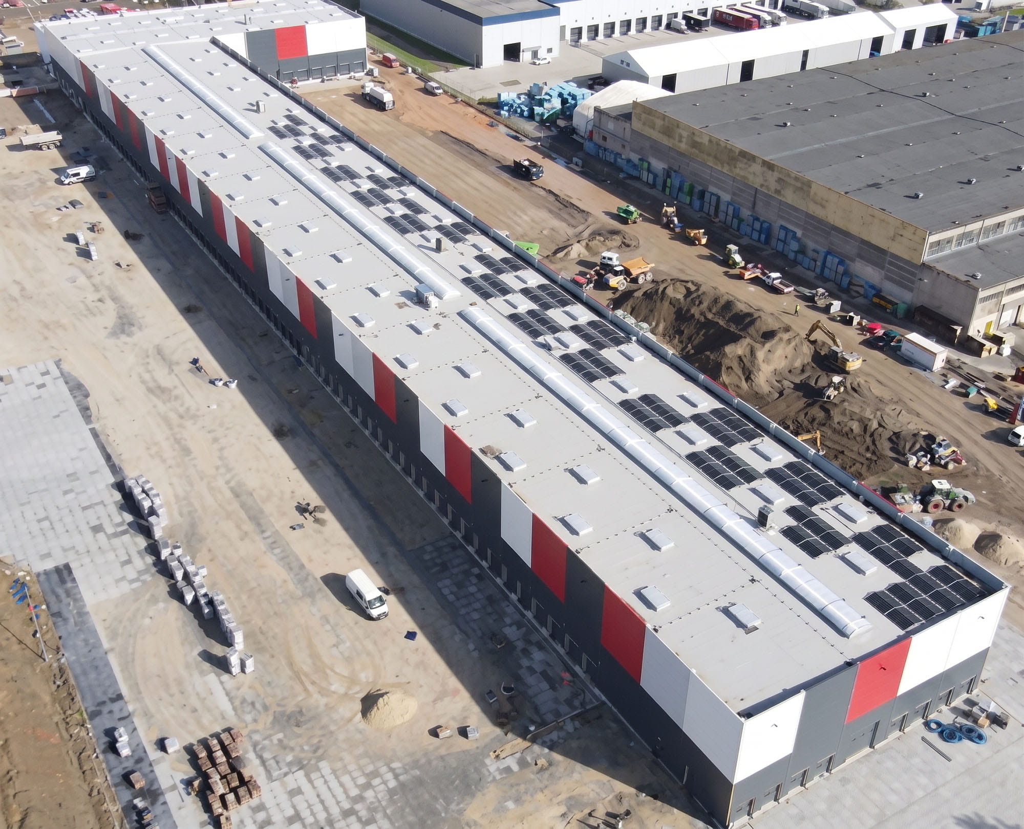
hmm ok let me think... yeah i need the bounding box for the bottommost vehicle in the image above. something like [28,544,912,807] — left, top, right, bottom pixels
[345,564,390,619]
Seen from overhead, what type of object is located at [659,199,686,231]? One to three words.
work vehicle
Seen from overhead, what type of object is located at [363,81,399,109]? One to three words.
truck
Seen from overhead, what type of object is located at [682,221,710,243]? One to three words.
truck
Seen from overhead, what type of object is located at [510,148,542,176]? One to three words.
vehicle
